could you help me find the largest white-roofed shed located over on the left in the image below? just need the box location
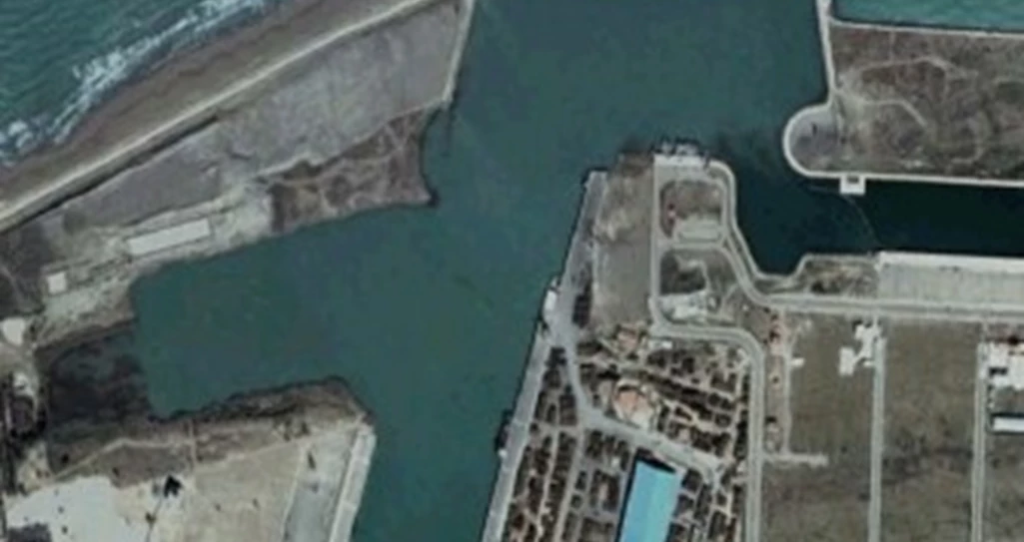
[127,219,211,257]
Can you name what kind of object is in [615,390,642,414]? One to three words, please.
house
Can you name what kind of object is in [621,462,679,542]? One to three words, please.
building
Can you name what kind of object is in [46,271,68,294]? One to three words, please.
building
